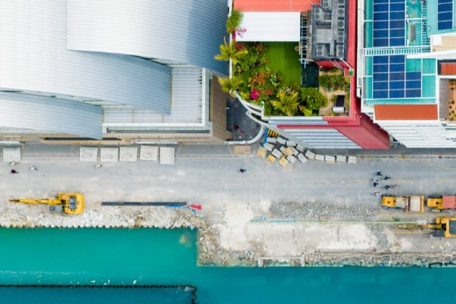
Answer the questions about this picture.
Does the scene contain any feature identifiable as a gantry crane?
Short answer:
No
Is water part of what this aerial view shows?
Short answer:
Yes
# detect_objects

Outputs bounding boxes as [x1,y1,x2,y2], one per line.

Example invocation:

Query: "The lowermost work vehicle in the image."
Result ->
[398,214,456,237]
